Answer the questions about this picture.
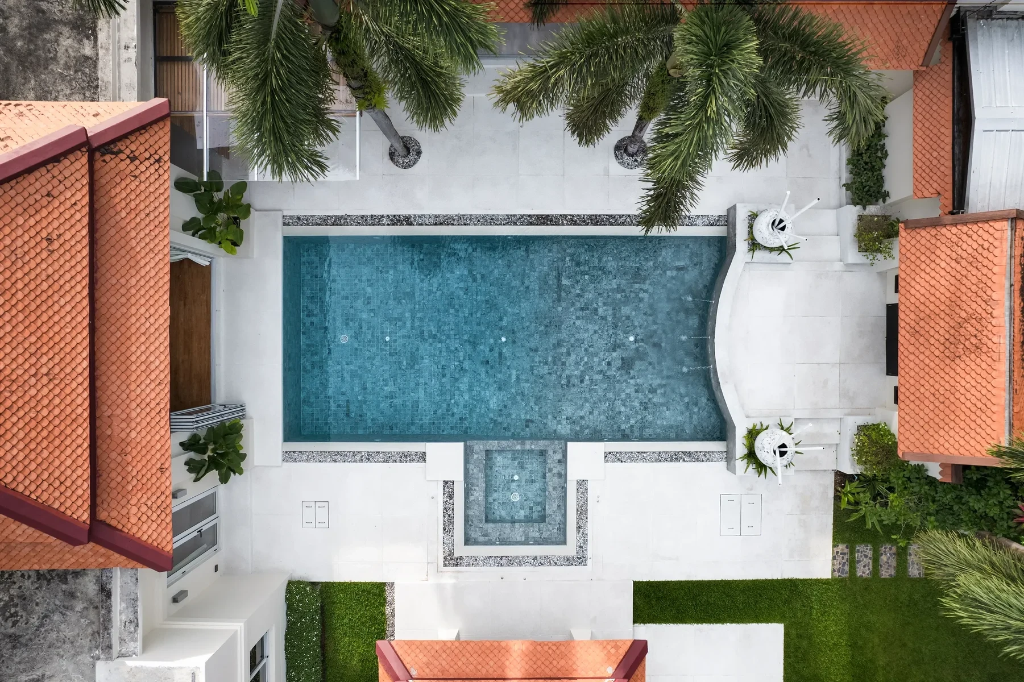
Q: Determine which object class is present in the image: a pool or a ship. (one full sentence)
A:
I can see a pool in this picture.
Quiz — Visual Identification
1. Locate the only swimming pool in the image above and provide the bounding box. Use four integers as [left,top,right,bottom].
[283,226,727,555]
